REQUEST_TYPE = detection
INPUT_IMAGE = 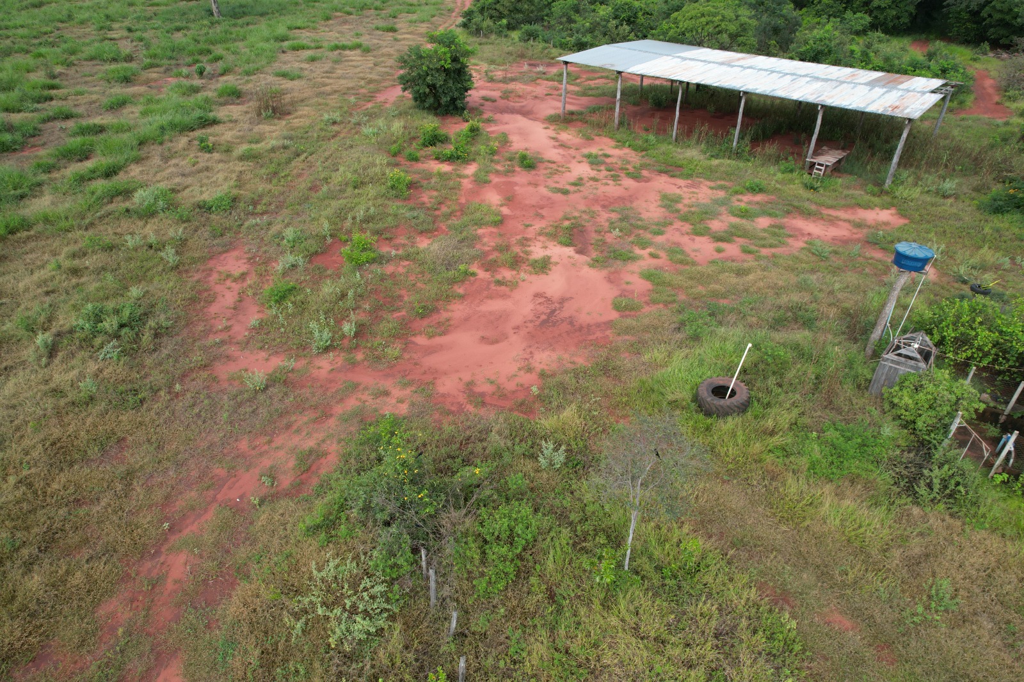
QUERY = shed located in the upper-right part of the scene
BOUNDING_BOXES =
[556,39,959,185]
